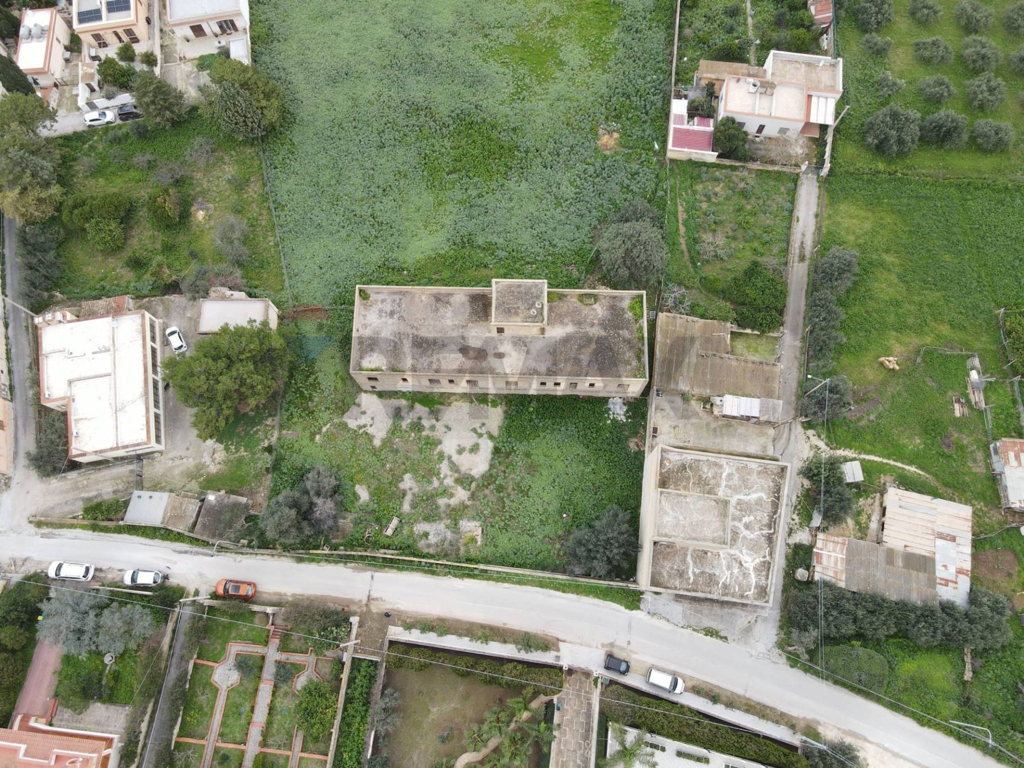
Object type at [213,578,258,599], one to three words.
car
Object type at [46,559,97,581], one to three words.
car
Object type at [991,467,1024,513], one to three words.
shed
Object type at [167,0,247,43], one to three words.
house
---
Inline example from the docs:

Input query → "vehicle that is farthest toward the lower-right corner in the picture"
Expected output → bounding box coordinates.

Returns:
[646,667,686,695]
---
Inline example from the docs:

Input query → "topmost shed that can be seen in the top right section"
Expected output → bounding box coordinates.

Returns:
[801,0,832,35]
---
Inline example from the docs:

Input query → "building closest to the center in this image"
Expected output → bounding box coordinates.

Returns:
[350,279,649,397]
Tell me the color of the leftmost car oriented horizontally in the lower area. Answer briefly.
white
